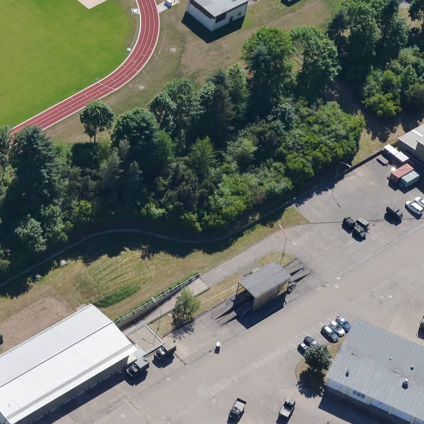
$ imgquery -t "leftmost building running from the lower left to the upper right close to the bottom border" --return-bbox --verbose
[0,302,146,424]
